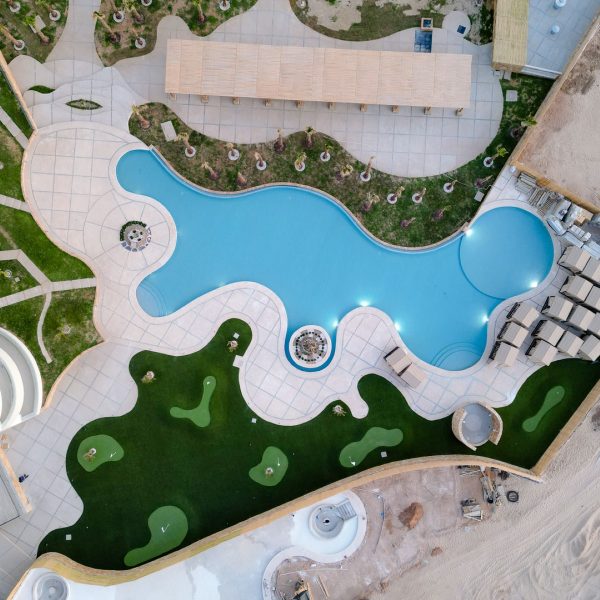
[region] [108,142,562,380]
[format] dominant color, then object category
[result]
blue swimming pool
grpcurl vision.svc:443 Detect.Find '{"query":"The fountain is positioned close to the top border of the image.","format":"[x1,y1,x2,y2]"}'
[415,15,434,52]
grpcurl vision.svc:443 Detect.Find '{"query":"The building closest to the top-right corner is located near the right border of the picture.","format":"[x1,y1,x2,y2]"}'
[490,0,600,81]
